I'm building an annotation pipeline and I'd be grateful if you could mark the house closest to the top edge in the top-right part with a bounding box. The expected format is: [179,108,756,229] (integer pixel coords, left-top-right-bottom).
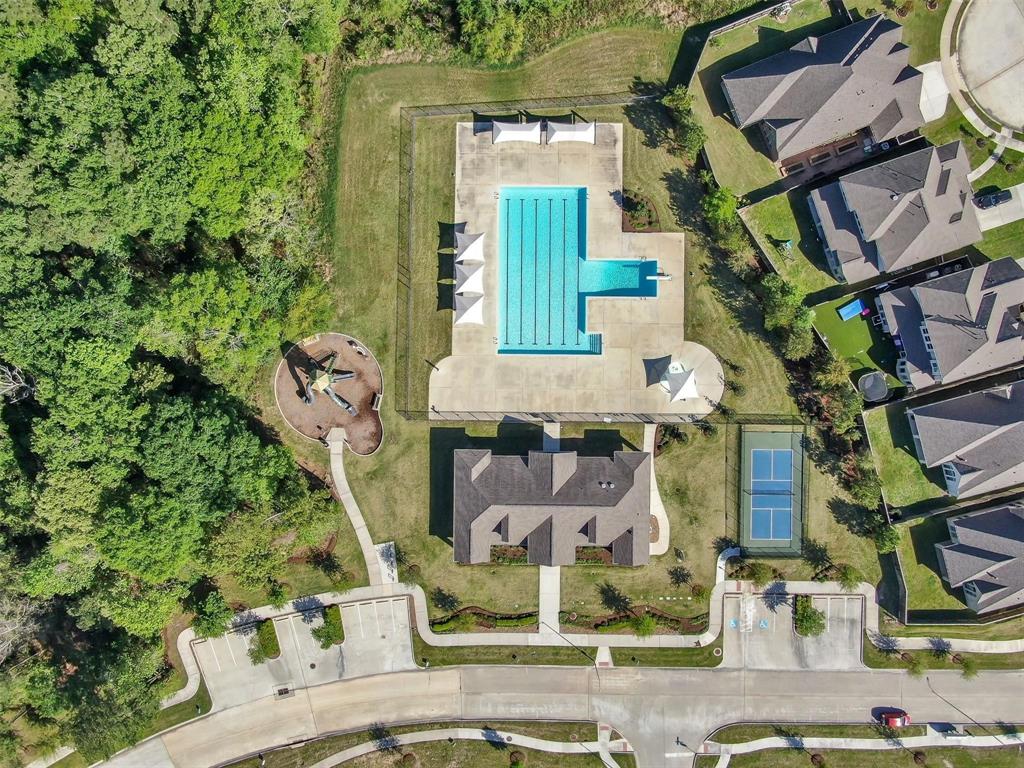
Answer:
[720,14,925,166]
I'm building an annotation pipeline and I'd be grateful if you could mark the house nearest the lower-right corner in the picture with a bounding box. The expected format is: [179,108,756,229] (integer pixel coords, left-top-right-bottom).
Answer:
[931,497,1024,615]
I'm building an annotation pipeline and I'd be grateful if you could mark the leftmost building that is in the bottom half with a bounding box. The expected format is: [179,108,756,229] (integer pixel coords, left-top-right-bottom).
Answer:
[454,449,650,569]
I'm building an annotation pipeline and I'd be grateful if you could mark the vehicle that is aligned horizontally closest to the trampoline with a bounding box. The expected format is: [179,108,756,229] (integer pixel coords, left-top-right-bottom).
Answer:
[974,187,1017,210]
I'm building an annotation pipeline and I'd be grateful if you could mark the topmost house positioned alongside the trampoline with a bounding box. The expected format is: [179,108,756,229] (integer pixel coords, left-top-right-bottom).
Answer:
[871,257,1024,390]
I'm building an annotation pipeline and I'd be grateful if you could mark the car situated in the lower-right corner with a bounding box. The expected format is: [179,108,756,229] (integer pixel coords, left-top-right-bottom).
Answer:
[879,708,910,726]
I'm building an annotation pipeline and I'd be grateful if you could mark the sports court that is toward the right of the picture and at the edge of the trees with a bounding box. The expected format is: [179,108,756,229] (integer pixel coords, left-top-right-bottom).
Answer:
[741,431,802,556]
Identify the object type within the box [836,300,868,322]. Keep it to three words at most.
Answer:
swimming pool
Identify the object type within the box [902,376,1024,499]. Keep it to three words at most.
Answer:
house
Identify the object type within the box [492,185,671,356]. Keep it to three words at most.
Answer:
swimming pool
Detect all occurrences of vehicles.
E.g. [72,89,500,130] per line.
[974,187,1017,210]
[879,708,910,726]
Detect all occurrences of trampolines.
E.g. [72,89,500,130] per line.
[859,371,892,401]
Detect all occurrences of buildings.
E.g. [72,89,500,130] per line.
[902,376,1024,499]
[805,141,983,285]
[931,497,1024,615]
[720,14,925,166]
[871,257,1024,390]
[454,449,650,569]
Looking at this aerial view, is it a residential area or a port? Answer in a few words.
residential area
